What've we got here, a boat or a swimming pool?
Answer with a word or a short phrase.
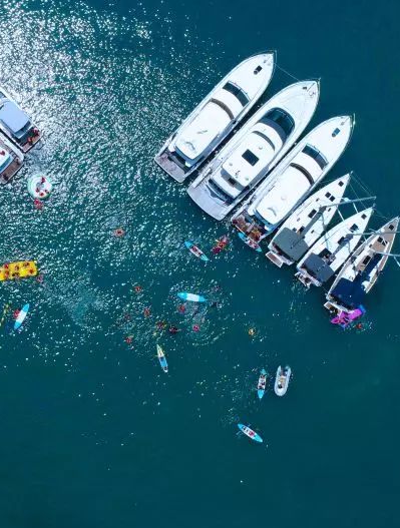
boat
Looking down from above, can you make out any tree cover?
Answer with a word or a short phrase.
No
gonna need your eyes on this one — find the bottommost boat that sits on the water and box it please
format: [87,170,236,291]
[237,425,262,442]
